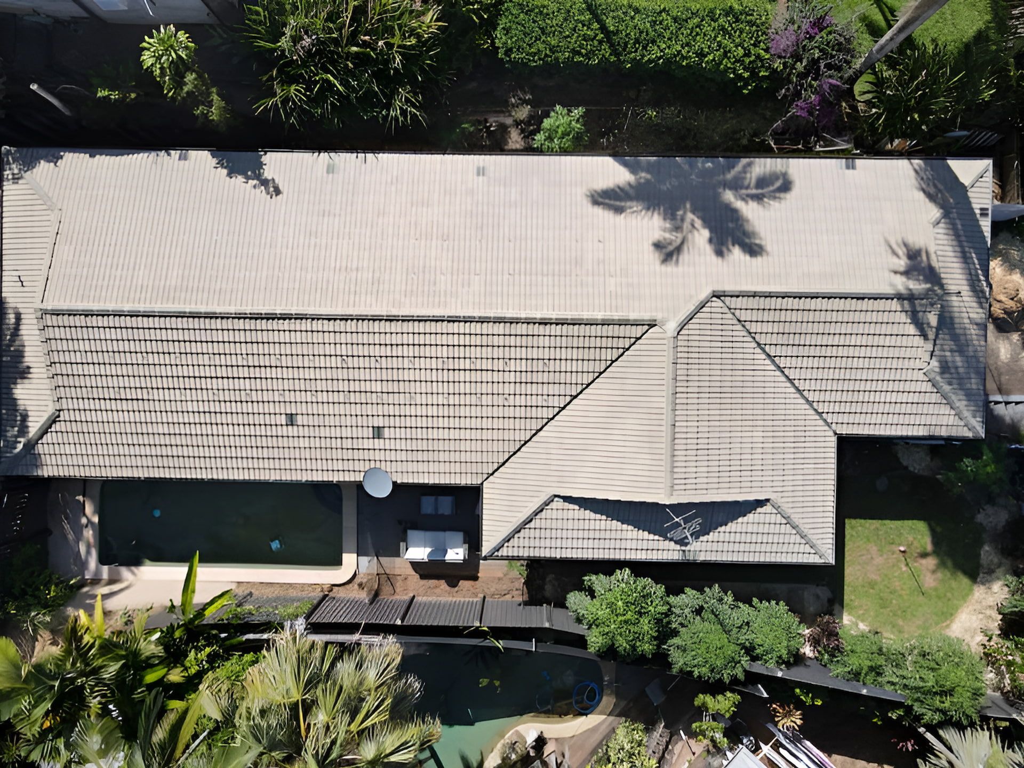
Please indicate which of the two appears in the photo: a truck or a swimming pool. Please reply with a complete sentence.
Looking from above, you can make out a swimming pool.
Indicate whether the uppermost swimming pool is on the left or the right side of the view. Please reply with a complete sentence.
You can find the uppermost swimming pool on the left side of the picture.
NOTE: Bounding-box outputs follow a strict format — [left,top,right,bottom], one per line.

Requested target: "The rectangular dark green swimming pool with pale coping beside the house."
[84,482,357,584]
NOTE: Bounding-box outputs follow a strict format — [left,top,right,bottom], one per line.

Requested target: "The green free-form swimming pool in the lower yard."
[217,627,619,768]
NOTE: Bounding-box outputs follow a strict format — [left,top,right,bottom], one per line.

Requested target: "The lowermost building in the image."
[0,142,994,569]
